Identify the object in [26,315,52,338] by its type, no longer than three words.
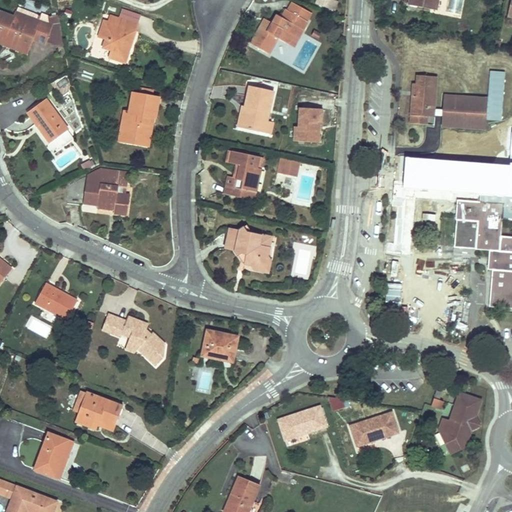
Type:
shed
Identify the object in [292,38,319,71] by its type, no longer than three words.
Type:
swimming pool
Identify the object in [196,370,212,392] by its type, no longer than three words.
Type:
swimming pool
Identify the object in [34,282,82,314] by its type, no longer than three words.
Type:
house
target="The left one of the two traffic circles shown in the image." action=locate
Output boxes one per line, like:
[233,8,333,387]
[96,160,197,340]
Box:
[276,282,366,387]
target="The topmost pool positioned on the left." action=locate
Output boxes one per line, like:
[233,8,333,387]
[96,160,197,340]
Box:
[75,24,93,50]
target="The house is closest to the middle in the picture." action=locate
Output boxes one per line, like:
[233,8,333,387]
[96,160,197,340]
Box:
[224,227,278,274]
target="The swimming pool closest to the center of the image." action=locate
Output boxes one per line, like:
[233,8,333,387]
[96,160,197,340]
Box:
[292,244,316,276]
